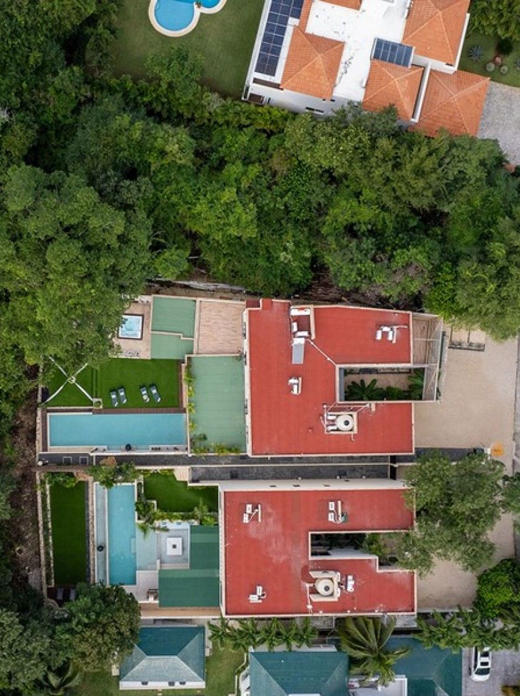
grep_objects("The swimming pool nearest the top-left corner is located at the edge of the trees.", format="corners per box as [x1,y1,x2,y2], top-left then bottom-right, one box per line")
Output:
[149,0,202,38]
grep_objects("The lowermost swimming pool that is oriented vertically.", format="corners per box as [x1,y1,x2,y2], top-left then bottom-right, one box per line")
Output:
[106,482,138,587]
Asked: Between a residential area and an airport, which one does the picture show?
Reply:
residential area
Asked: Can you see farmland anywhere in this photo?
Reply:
No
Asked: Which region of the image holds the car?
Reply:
bottom right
